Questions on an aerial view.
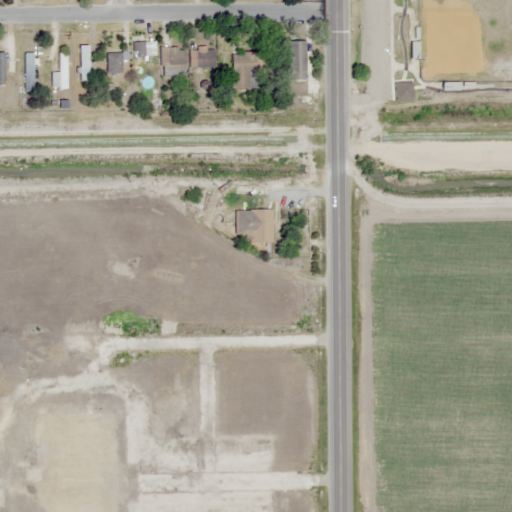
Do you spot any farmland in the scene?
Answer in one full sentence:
Yes, some farmland is visible.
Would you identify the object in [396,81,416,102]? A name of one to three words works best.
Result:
building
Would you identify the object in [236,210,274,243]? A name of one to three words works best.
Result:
house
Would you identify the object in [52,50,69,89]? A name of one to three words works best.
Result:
house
